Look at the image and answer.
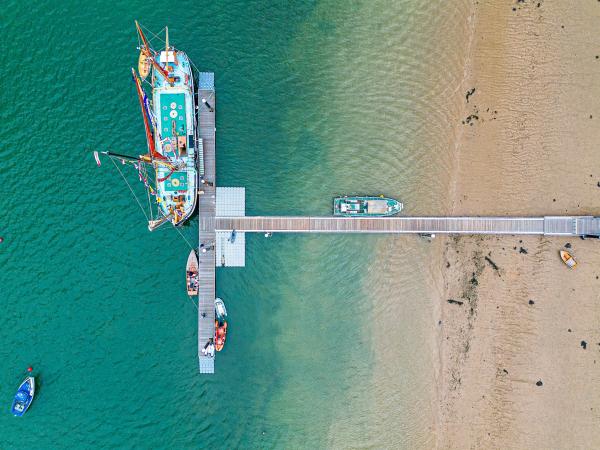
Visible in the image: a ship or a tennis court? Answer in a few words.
ship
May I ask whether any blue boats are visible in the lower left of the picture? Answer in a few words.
Yes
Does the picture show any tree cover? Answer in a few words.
No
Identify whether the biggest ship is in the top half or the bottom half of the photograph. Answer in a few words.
top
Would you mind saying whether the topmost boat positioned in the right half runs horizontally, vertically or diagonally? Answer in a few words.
horizontally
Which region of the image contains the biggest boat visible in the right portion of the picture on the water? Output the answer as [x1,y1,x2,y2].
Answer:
[334,195,404,217]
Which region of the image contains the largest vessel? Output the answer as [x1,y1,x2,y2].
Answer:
[97,20,199,229]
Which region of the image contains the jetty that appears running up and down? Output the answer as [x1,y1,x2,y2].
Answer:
[197,86,216,359]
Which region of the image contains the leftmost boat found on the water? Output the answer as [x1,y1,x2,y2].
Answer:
[11,376,36,419]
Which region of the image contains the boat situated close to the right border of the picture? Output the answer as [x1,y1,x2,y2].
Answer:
[561,250,578,270]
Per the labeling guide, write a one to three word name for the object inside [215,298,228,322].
boat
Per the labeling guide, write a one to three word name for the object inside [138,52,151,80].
boat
